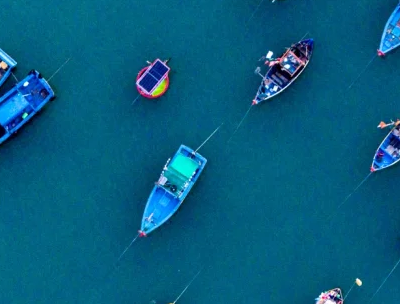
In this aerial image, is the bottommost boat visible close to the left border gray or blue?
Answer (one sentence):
In this view, the bottommost boat visible close to the left border is blue.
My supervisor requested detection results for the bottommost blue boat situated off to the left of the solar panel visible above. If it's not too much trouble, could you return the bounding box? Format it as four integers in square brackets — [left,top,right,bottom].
[0,70,59,145]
